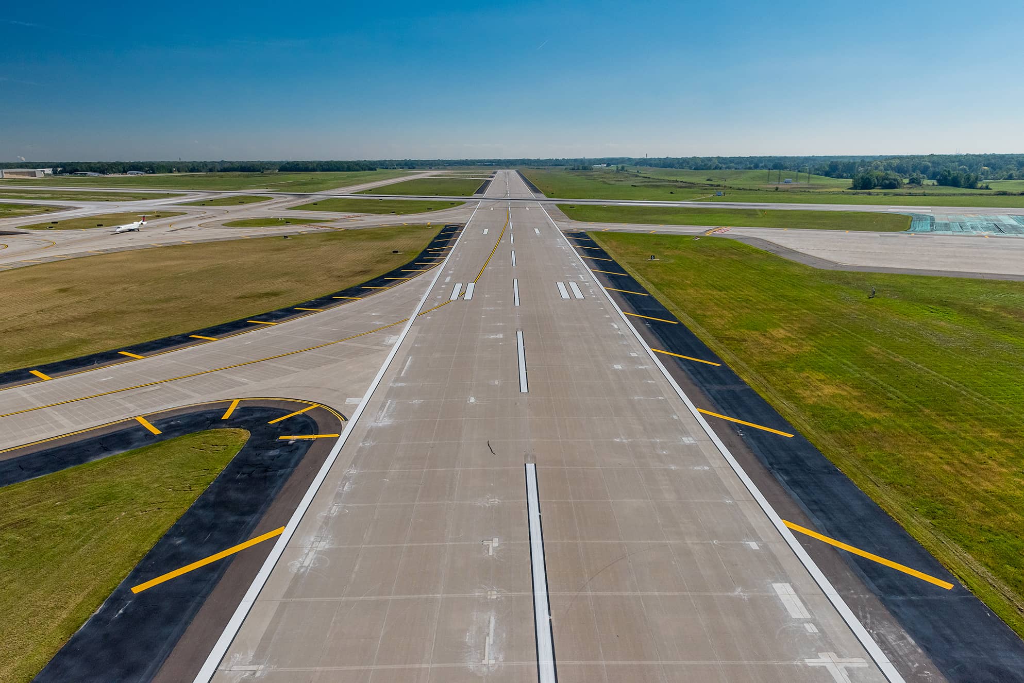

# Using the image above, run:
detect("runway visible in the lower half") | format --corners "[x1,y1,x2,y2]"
[192,170,906,683]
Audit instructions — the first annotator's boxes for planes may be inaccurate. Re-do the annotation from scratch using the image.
[114,214,154,233]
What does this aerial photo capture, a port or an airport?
airport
